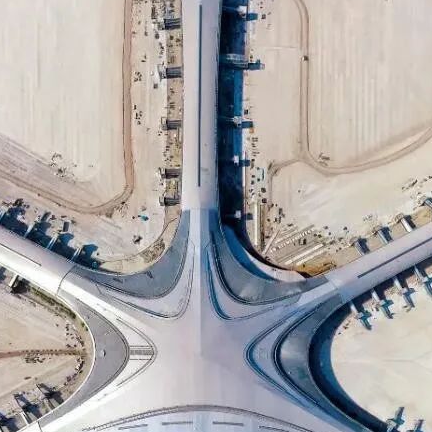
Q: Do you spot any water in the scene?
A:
No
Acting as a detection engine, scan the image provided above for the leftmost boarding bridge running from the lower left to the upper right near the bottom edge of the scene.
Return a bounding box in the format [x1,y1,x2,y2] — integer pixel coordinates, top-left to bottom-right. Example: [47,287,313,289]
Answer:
[384,405,404,432]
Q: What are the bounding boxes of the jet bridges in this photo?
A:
[162,196,182,208]
[10,275,22,288]
[162,169,183,182]
[0,199,21,224]
[414,266,432,296]
[36,382,54,413]
[68,245,84,263]
[370,288,392,319]
[394,213,413,231]
[392,277,415,308]
[349,300,372,329]
[217,59,266,71]
[162,120,183,134]
[402,417,423,432]
[220,6,258,21]
[384,405,404,432]
[219,210,253,219]
[13,392,32,426]
[162,19,183,36]
[45,223,68,251]
[217,155,250,165]
[373,226,389,242]
[217,117,254,127]
[21,212,50,239]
